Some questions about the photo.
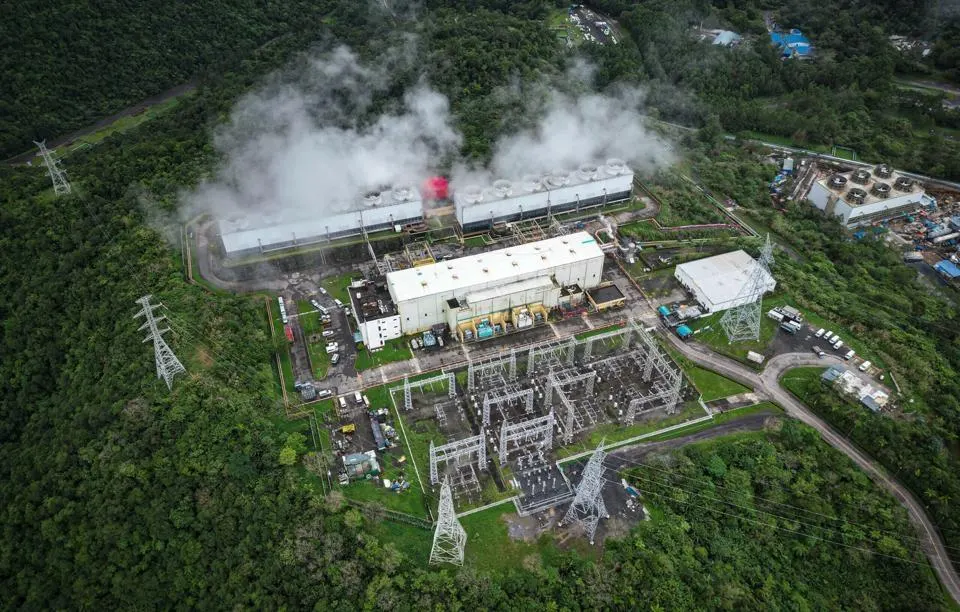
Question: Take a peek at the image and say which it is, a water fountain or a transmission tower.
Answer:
transmission tower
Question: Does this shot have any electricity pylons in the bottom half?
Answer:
Yes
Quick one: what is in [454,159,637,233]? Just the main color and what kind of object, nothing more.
white cooling tower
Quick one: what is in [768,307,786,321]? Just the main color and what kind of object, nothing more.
white vehicle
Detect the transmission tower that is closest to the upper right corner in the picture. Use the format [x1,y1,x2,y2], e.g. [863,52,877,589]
[716,232,772,344]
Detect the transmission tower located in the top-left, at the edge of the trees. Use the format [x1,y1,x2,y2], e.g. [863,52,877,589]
[38,142,71,190]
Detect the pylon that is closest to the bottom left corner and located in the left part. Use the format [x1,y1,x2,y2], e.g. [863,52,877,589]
[135,294,186,379]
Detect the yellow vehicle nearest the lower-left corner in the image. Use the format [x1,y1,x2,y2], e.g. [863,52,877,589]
[327,422,354,435]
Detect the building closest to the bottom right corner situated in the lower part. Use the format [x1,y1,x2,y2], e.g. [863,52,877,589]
[817,360,891,411]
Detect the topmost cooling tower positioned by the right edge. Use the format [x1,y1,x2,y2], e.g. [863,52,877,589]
[802,166,926,232]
